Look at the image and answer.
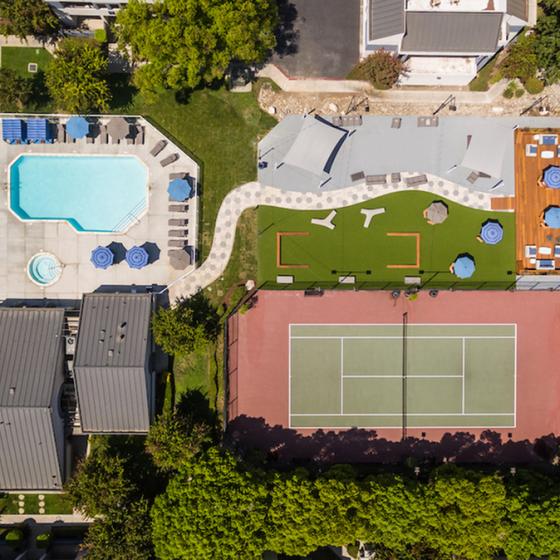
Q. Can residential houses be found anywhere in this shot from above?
Yes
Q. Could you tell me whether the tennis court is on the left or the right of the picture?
right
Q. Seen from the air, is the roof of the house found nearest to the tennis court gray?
Yes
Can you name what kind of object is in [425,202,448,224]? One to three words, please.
umbrella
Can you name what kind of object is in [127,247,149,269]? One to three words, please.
umbrella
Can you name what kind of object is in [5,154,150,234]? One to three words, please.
swimming pool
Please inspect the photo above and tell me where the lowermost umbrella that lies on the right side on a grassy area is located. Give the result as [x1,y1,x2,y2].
[452,255,475,278]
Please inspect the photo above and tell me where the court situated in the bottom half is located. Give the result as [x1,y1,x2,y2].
[229,290,560,459]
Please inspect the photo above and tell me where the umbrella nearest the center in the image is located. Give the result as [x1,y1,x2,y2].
[169,248,191,270]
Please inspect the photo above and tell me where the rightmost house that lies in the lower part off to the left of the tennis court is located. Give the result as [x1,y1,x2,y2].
[73,293,153,433]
